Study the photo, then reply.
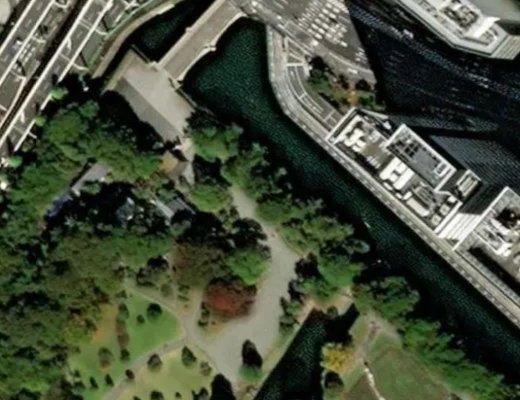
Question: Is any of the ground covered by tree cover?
Yes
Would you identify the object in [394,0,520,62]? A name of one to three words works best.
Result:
building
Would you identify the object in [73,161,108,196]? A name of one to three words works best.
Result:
house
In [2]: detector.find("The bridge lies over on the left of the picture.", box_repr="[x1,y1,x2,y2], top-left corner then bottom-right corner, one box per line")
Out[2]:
[148,0,248,85]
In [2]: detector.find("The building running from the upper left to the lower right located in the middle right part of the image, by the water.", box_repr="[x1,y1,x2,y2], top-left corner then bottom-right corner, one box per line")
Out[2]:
[327,105,495,240]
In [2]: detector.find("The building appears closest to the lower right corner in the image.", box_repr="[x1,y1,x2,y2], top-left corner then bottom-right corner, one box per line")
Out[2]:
[451,190,520,310]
